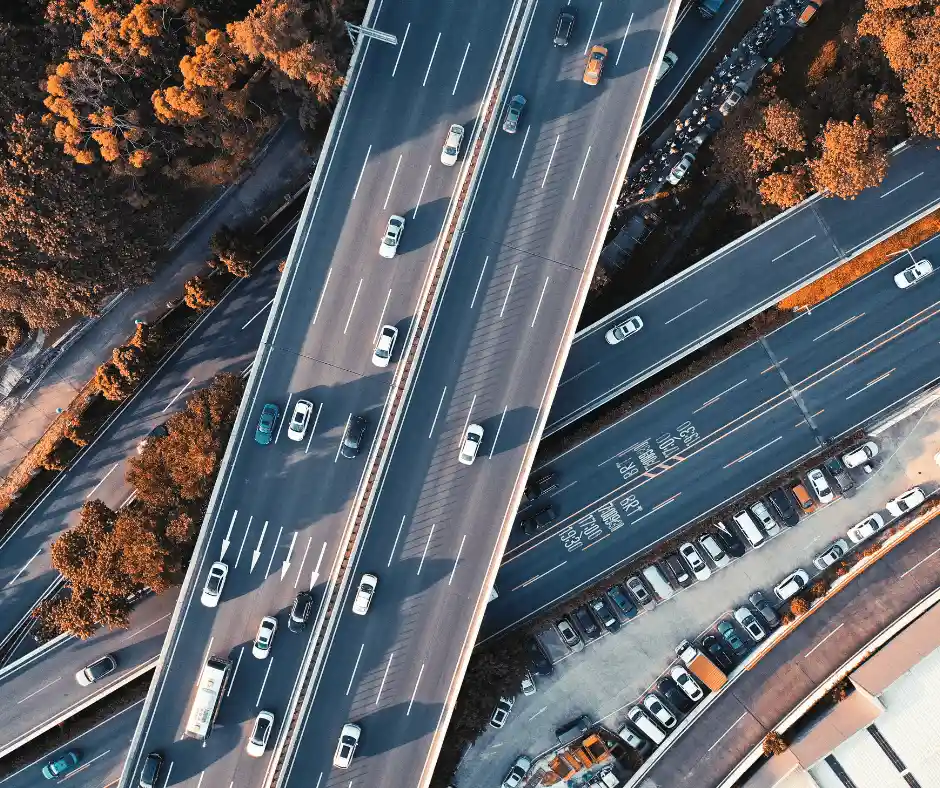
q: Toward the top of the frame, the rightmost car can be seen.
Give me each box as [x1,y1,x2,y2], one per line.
[890,258,933,290]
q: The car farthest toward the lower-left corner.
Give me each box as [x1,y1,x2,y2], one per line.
[42,748,83,779]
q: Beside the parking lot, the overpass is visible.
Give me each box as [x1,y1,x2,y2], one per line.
[118,0,681,788]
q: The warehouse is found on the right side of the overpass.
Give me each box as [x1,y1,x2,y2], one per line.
[738,604,940,788]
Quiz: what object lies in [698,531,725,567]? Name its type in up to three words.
car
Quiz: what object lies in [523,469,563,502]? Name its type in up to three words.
van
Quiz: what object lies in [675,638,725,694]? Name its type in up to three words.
truck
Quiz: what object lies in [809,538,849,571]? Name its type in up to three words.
car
